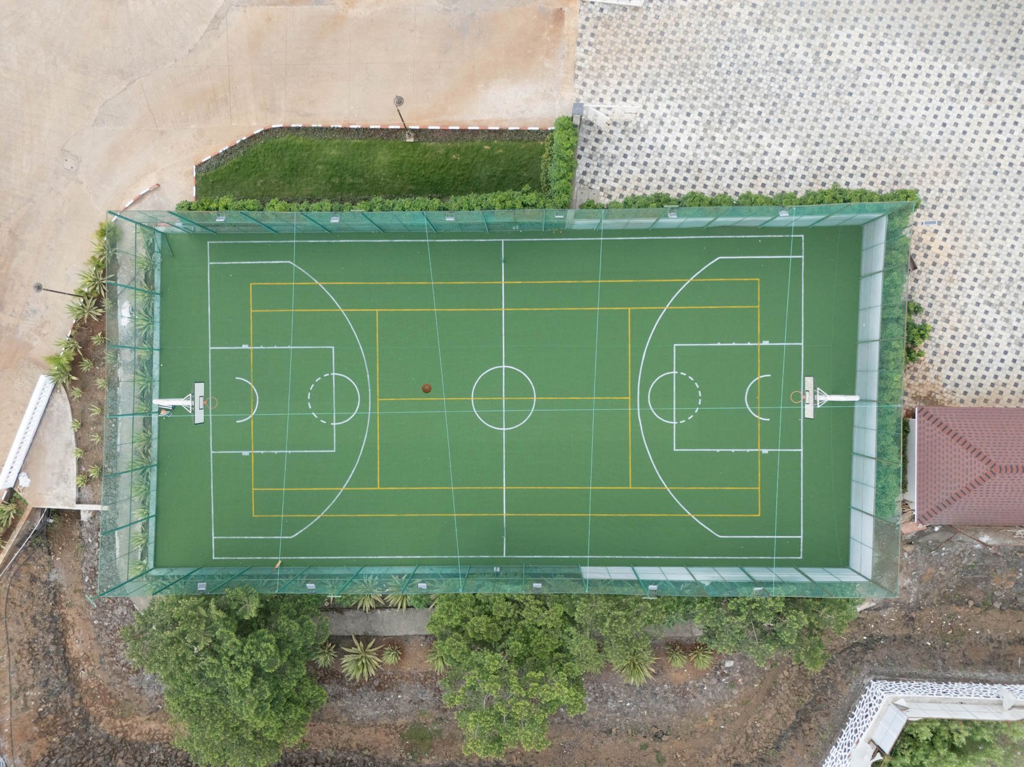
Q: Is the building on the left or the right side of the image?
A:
right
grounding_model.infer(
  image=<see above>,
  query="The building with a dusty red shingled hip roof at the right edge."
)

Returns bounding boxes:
[889,405,1024,528]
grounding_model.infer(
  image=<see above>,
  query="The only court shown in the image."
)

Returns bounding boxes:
[144,216,874,579]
